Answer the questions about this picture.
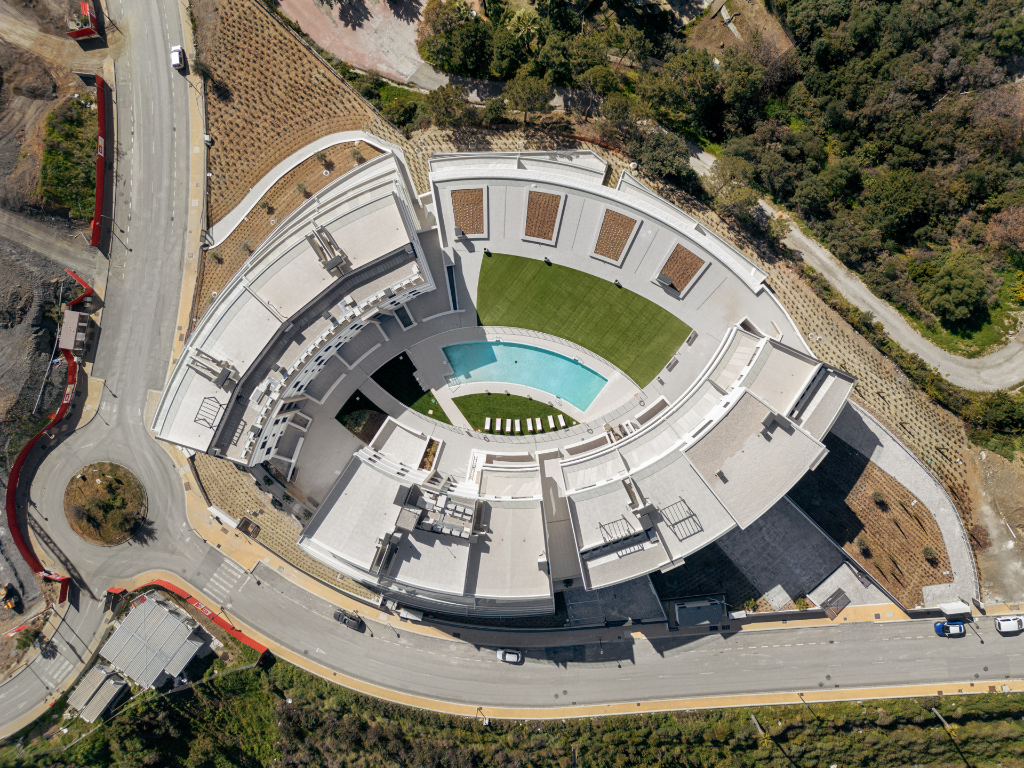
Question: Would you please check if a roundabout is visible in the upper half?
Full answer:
No, no roundabout can be made out in the upper half.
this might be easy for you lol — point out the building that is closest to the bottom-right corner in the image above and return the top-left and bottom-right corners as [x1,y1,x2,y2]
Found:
[674,598,728,627]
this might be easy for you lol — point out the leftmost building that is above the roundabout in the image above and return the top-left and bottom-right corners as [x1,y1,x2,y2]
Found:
[59,310,93,351]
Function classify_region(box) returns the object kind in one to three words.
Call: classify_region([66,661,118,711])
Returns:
shed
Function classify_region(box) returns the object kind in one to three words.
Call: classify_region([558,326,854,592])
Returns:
building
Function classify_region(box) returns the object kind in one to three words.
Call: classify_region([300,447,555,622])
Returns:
building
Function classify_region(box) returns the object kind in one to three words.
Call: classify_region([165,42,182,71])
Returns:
car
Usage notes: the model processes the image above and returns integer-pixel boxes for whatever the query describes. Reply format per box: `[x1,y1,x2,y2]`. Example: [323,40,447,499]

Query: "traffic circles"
[62,461,148,546]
